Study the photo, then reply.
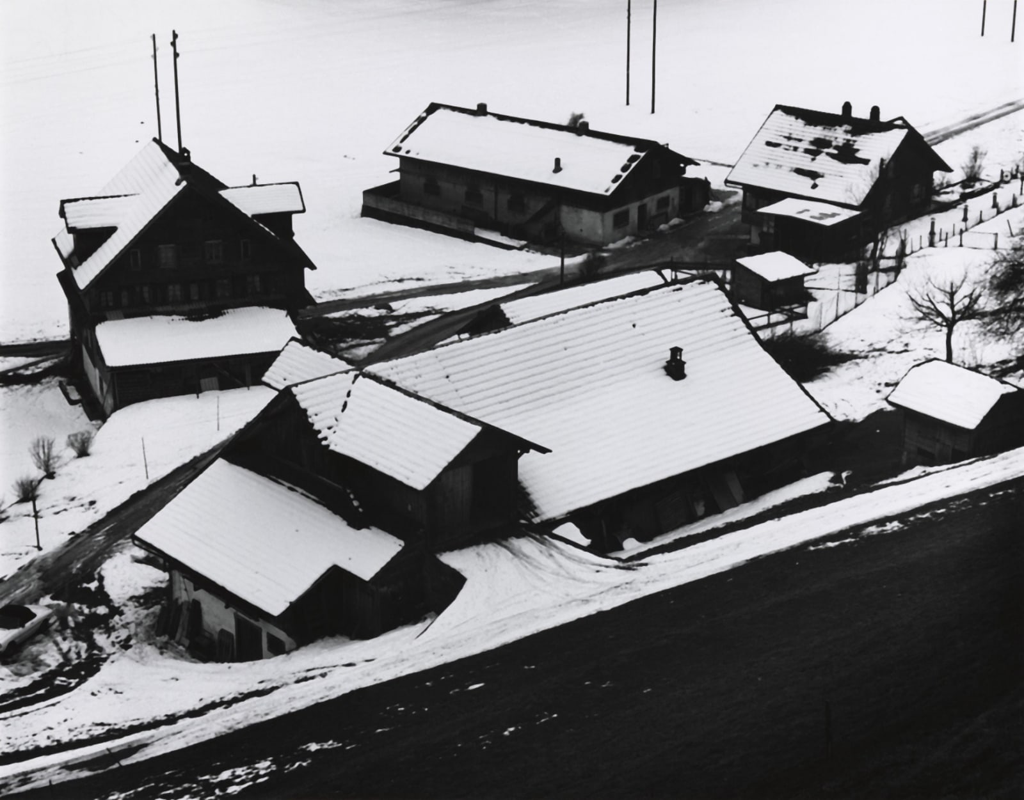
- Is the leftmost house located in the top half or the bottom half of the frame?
top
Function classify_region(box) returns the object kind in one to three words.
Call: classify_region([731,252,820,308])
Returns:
shed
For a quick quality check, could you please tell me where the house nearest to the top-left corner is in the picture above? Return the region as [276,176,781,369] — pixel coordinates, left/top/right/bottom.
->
[52,138,320,420]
